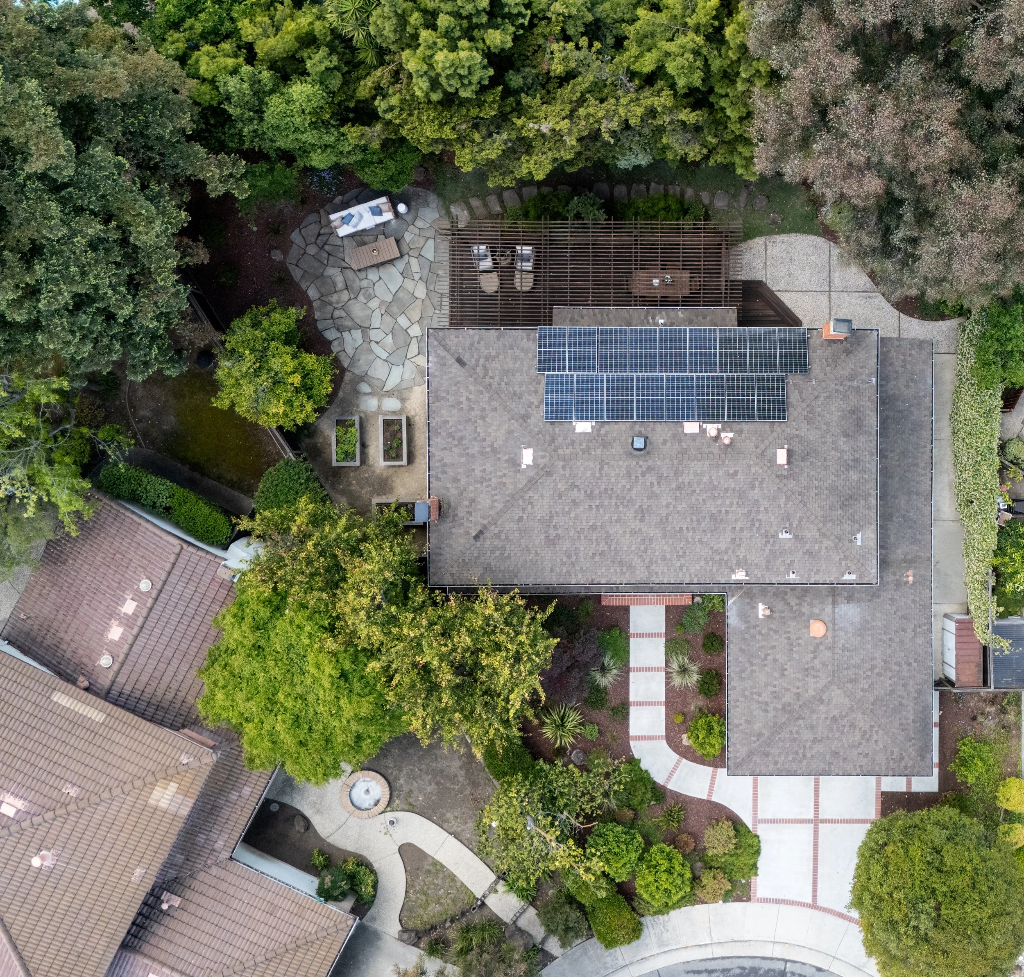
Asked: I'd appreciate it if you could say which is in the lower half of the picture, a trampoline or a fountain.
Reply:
fountain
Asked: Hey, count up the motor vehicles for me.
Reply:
zero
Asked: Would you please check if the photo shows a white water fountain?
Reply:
Yes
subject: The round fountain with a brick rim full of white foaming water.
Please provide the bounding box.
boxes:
[342,769,391,819]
